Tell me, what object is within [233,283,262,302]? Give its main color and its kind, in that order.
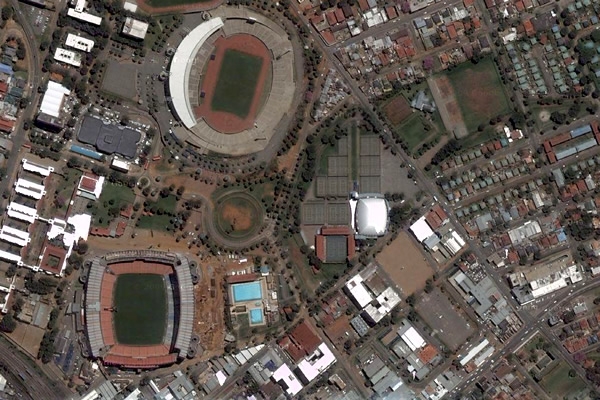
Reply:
blue swimming pool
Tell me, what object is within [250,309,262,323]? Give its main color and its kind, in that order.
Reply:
blue swimming pool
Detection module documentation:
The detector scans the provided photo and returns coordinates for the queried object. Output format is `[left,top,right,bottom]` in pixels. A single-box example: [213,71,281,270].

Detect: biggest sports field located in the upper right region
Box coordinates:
[449,57,512,133]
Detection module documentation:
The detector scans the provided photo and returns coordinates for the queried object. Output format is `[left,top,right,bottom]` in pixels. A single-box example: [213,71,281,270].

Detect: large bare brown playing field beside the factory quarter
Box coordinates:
[378,231,435,296]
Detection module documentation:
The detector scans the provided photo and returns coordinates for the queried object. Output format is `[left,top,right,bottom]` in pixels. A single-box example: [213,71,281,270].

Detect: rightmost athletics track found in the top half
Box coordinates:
[200,34,272,133]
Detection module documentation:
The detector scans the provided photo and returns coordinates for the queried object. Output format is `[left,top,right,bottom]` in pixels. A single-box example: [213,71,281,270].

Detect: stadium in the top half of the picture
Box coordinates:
[160,6,294,157]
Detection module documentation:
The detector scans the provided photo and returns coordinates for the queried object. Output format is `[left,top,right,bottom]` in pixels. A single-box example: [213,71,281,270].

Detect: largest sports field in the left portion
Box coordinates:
[113,273,166,345]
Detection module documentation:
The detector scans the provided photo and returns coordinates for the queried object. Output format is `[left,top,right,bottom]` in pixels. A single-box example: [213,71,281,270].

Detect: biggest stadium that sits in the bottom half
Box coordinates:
[78,249,200,368]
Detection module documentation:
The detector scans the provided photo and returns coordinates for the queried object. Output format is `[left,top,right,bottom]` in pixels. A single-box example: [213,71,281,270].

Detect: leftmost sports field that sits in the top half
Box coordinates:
[212,49,262,116]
